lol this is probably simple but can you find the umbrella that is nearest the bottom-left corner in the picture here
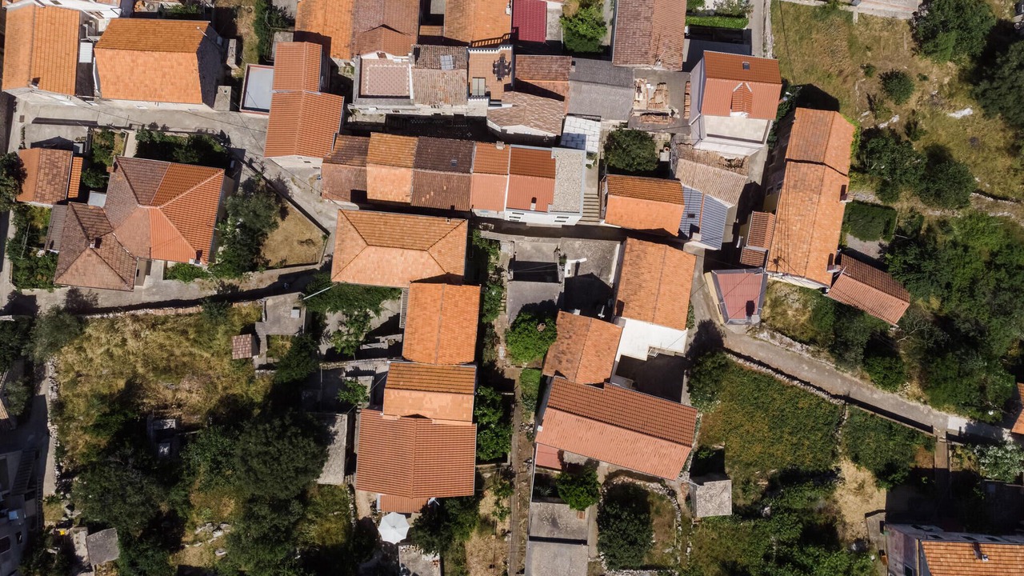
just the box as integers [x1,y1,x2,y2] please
[377,514,409,544]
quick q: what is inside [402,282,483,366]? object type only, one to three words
house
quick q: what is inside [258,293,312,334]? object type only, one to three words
shed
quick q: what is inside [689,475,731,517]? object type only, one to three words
shed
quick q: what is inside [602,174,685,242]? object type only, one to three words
house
